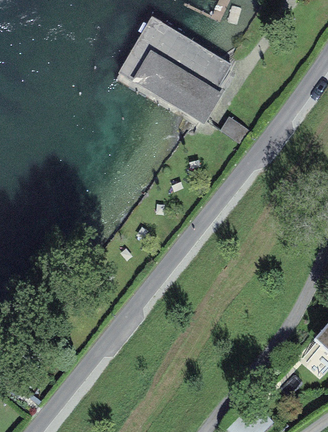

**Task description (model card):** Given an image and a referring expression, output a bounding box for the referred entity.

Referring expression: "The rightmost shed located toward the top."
[221,117,248,142]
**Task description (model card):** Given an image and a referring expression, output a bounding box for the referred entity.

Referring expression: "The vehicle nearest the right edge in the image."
[310,76,328,98]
